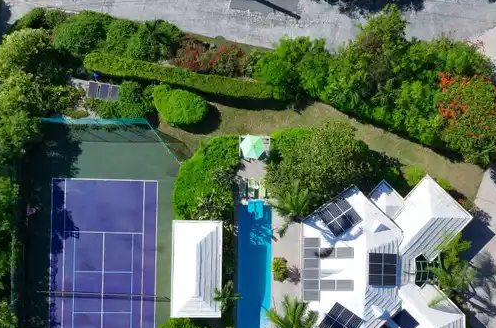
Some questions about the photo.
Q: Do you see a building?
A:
Yes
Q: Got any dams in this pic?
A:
No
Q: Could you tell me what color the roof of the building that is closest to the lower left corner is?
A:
white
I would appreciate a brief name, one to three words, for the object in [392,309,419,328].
solar panel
